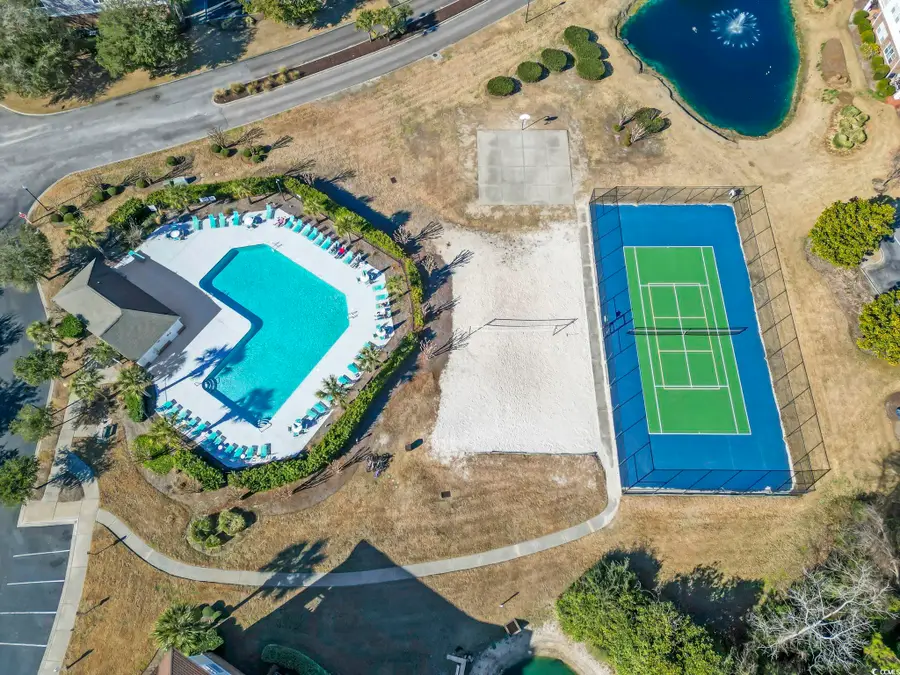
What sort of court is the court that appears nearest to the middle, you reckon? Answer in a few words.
basketball court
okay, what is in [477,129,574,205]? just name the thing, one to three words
basketball court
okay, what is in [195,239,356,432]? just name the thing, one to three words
swimming pool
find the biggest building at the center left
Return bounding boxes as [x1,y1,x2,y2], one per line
[53,258,187,367]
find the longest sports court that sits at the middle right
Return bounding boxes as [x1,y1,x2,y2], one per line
[587,201,795,495]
